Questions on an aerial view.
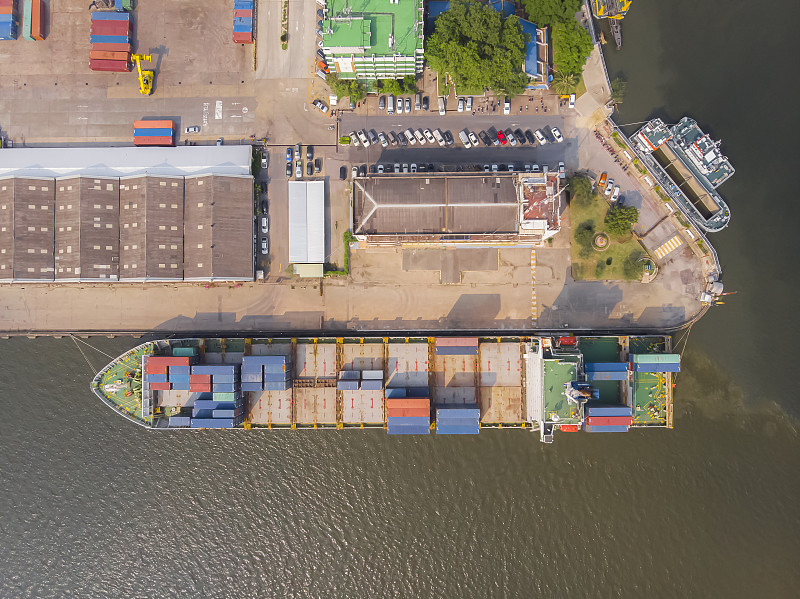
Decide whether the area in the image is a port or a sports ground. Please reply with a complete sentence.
What you see here is a port.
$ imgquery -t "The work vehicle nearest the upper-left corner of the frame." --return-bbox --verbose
[131,53,157,94]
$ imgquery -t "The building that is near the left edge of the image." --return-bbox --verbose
[0,145,259,282]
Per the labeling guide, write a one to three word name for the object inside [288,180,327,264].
shed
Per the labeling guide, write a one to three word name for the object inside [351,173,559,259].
building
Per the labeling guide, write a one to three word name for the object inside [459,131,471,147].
vehicle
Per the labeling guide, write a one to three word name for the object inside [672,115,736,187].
ship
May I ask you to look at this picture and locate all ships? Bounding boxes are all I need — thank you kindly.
[672,115,736,187]
[88,334,677,444]
[627,116,731,231]
[594,0,633,19]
